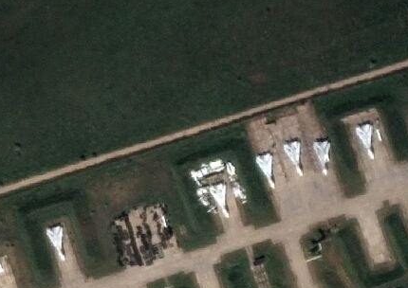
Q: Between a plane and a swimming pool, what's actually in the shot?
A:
plane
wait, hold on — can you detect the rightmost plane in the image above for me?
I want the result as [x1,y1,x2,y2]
[357,123,374,159]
